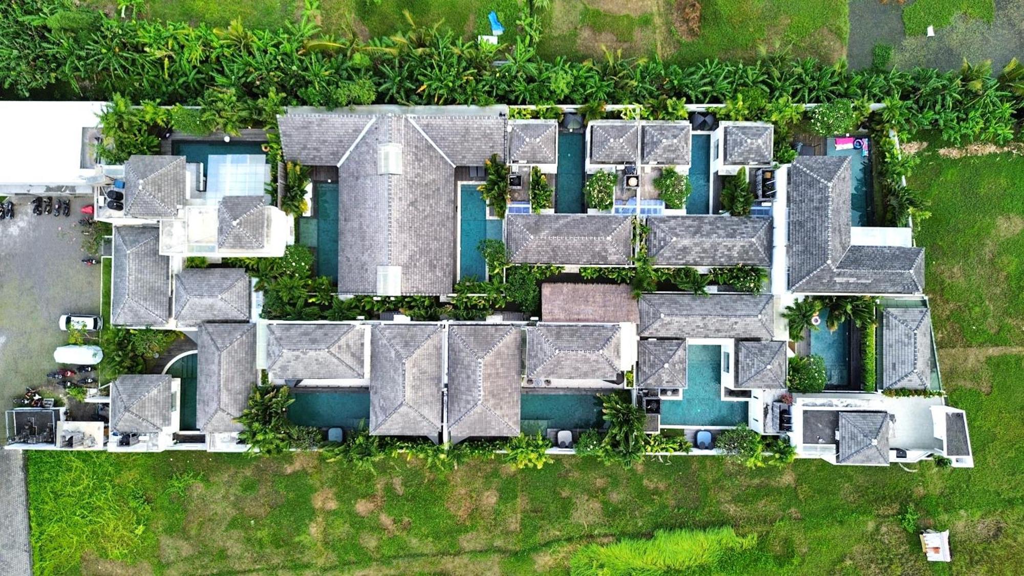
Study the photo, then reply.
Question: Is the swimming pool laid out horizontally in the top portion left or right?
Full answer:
It is on the left.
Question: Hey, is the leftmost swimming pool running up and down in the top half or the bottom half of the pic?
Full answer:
The leftmost swimming pool running up and down sits in the bottom half of the picture.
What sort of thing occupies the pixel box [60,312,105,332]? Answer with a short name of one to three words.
car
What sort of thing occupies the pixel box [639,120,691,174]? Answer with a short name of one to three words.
building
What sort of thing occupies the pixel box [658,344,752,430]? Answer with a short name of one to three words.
swimming pool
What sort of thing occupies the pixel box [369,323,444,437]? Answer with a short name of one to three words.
house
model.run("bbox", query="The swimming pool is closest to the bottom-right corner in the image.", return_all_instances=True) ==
[811,308,849,385]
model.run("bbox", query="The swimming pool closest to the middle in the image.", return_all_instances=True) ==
[457,181,505,284]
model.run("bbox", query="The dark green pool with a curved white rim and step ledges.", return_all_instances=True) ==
[165,350,197,431]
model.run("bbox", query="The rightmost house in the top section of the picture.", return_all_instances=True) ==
[789,156,926,295]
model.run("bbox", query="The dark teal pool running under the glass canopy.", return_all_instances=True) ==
[173,141,268,165]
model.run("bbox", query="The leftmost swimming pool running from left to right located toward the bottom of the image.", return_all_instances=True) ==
[288,393,370,435]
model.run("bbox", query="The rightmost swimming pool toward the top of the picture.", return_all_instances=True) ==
[828,137,871,227]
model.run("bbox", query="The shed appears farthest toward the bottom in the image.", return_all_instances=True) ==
[916,527,949,561]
